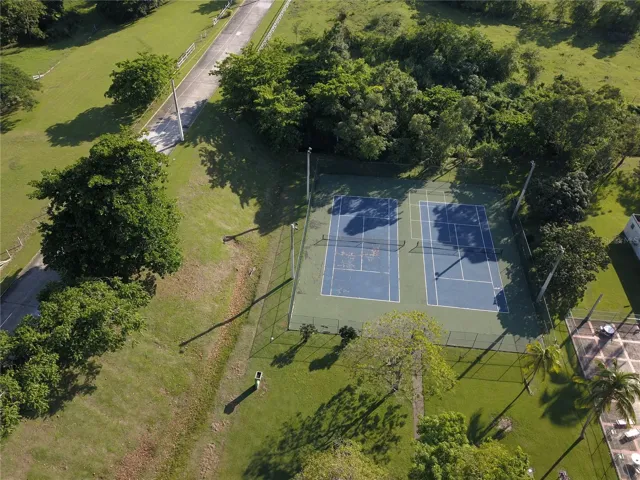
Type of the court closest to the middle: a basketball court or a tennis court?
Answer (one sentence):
Specifically, the court closest to the middle is a tennis court.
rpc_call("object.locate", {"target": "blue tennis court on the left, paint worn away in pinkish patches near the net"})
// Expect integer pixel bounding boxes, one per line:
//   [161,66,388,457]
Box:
[321,195,399,301]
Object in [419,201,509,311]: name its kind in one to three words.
tennis court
